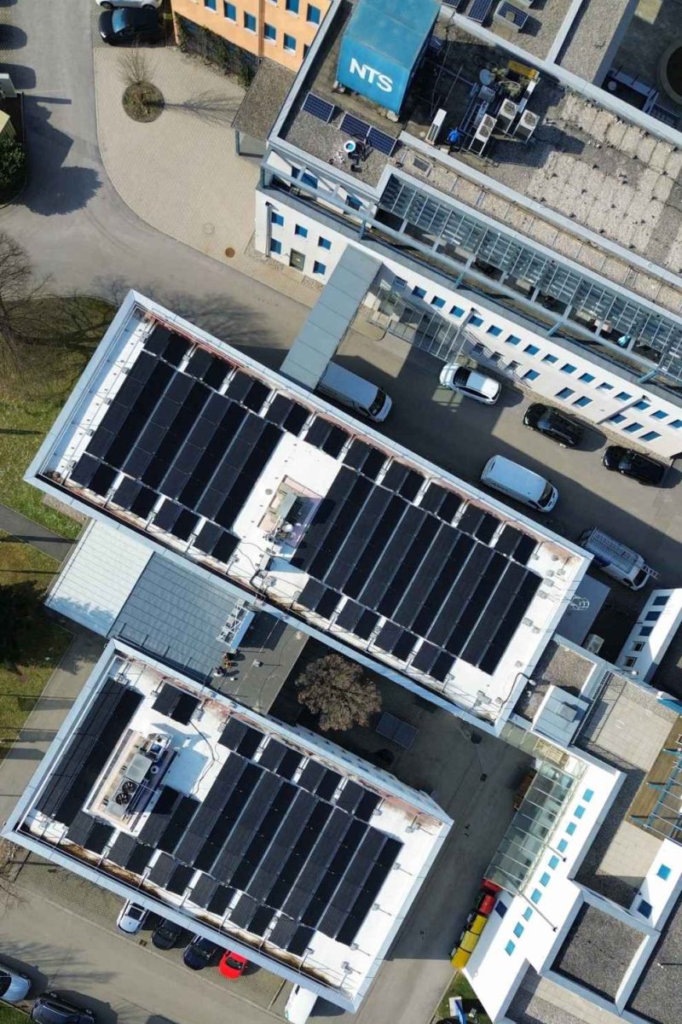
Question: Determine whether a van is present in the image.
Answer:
Yes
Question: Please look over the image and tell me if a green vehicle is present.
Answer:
No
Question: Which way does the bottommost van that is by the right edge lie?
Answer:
at an angle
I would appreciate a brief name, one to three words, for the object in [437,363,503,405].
car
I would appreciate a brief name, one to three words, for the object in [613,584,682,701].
building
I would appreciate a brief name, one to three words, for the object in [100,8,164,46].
car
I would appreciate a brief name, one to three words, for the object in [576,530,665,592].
van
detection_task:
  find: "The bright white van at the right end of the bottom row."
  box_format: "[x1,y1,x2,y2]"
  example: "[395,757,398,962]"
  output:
[276,981,324,1024]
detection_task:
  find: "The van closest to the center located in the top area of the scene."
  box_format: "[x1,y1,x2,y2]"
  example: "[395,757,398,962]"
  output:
[318,363,390,421]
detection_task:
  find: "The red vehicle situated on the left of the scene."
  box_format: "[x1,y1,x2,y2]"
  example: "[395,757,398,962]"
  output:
[220,949,254,981]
